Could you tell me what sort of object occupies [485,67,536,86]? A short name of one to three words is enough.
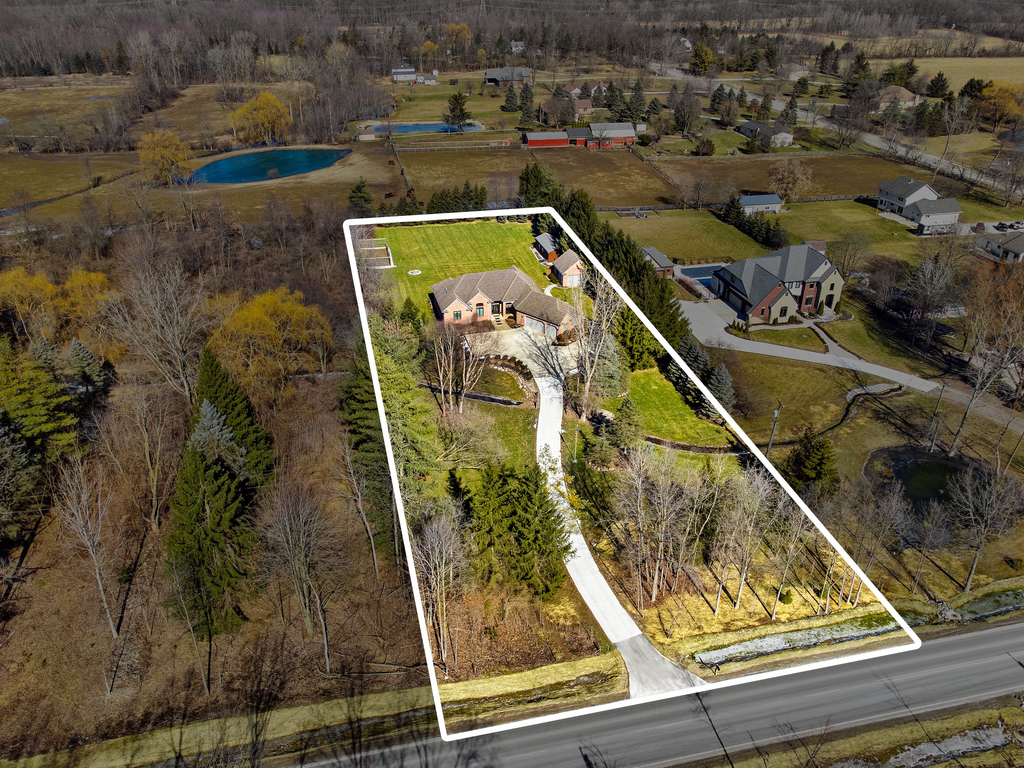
house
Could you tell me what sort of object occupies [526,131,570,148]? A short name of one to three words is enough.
barn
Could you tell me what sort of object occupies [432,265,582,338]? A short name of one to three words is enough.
house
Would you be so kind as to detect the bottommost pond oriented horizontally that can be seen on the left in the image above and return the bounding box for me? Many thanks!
[193,149,351,185]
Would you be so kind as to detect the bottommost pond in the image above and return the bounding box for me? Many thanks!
[861,446,1008,553]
